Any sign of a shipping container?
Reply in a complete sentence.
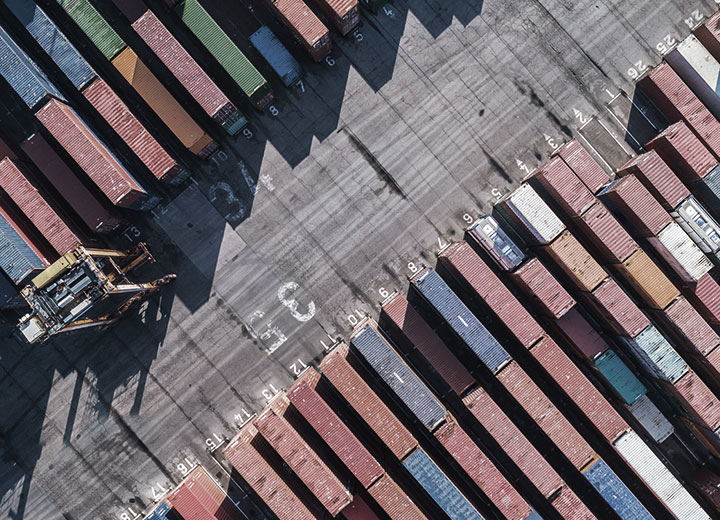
Yes, a shipping container is visible in the scene.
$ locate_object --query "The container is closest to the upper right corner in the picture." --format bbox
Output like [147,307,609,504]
[693,12,720,64]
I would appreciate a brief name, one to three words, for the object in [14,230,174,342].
work vehicle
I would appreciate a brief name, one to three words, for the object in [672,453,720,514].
shipping container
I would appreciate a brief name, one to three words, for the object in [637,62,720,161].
shipping container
